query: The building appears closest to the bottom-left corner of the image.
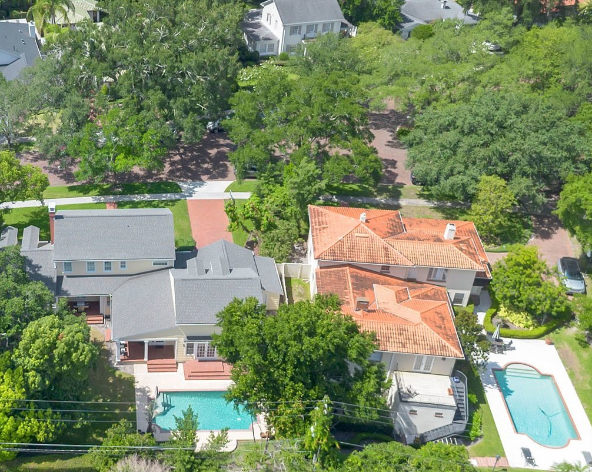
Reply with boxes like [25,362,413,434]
[0,205,284,380]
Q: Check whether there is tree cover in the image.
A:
Yes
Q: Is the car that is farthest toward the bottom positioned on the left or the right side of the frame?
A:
right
